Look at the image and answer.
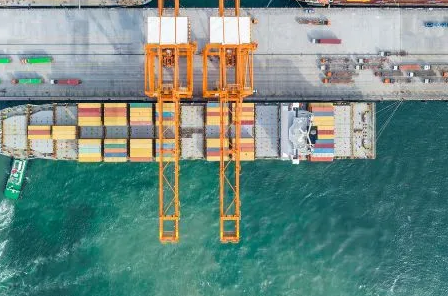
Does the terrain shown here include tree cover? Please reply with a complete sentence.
No, there's no tree cover in this view.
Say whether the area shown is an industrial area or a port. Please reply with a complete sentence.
The picture captures a port.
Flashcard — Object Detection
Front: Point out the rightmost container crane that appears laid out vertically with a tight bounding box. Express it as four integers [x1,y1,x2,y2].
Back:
[195,0,258,244]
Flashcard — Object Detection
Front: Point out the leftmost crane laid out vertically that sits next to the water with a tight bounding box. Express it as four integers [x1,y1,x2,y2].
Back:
[142,0,199,244]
